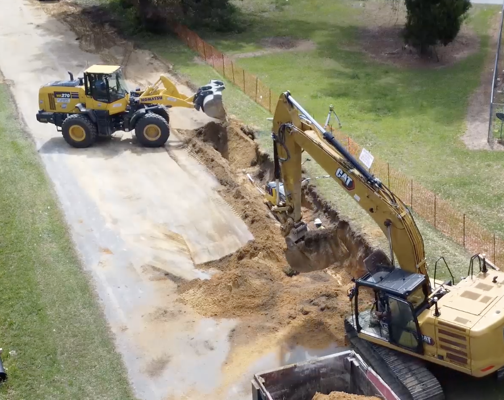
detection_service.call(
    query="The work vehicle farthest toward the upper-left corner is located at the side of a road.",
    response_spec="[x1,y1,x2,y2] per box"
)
[37,59,236,148]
